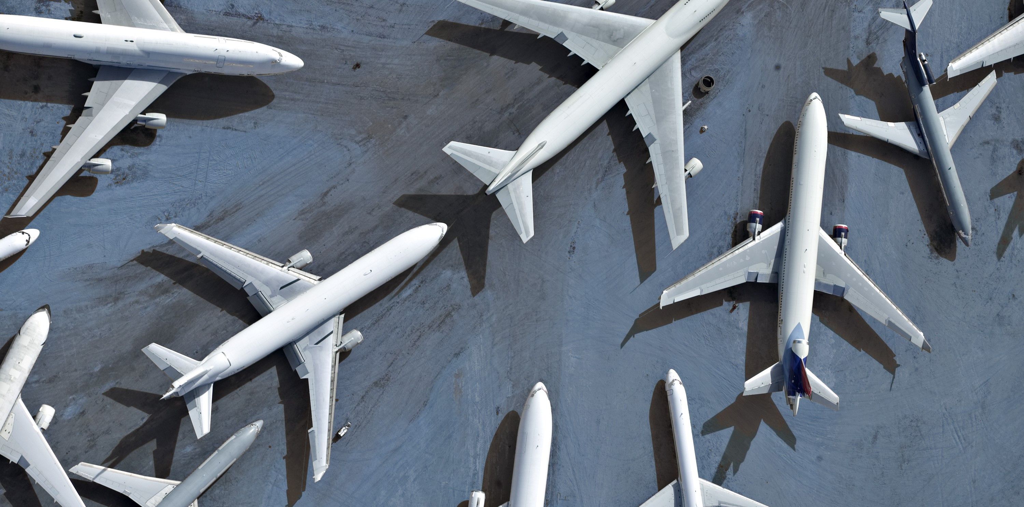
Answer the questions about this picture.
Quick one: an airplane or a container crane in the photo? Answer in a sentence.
This aerial view contains an airplane.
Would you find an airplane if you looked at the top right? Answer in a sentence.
Yes, the scene does show an airplane at the top right.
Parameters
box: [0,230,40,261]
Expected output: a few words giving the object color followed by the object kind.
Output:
white airplane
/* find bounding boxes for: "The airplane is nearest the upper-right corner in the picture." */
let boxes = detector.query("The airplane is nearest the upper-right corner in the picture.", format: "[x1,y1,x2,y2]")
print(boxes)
[946,11,1024,79]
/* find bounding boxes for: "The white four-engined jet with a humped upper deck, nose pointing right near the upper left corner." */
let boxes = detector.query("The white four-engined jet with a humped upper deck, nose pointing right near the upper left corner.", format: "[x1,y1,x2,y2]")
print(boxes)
[0,0,304,221]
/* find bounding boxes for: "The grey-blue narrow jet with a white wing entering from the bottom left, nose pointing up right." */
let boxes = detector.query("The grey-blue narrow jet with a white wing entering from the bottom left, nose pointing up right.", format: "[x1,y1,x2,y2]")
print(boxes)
[69,420,264,507]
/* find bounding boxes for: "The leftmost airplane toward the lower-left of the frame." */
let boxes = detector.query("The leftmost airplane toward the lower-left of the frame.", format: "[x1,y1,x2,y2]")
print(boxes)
[0,304,85,507]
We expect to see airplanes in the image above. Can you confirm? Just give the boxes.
[502,382,551,507]
[0,230,40,261]
[946,11,1024,79]
[0,0,304,221]
[657,92,929,416]
[142,223,447,484]
[0,304,85,507]
[639,369,767,507]
[442,0,735,256]
[838,0,997,246]
[69,420,264,507]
